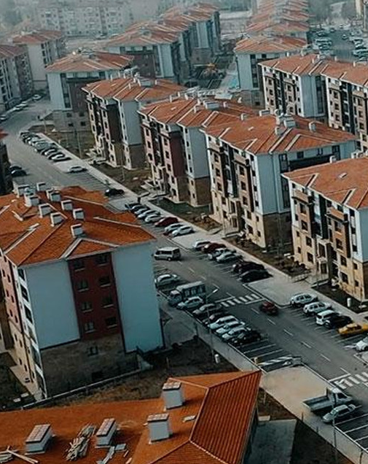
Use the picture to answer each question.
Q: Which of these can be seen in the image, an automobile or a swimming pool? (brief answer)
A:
automobile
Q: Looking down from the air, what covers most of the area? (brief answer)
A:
buildings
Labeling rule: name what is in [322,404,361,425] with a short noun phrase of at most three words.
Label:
car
